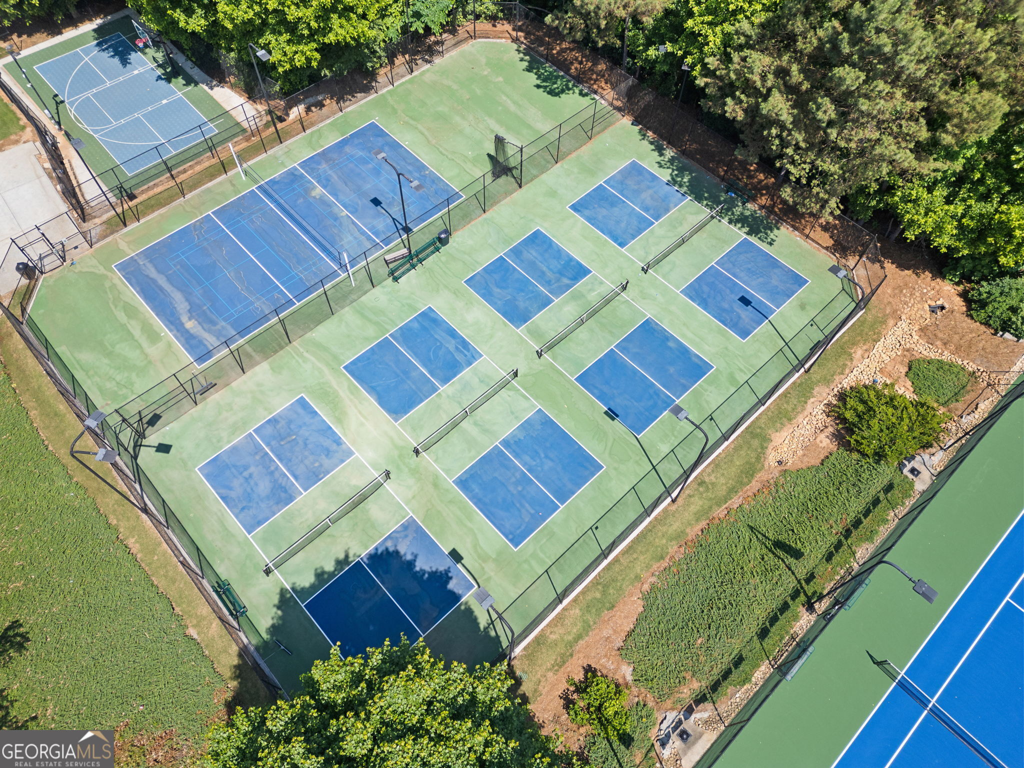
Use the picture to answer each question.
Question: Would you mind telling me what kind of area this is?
sports ground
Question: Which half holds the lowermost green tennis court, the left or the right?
right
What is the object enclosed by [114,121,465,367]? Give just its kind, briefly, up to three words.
sports court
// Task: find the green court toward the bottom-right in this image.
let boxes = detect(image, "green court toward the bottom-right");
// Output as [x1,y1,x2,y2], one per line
[695,396,1024,768]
